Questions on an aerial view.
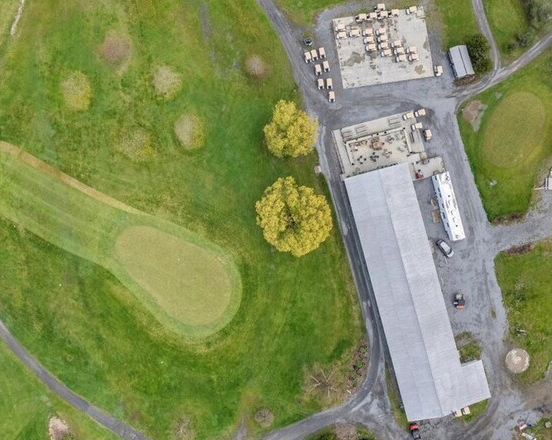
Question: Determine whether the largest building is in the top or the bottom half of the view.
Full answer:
Seen from above, the largest building lies in the bottom half of the view.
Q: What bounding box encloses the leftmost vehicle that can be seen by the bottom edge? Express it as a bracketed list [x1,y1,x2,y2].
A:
[409,423,421,440]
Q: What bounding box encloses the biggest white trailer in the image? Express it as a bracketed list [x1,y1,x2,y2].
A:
[433,170,464,240]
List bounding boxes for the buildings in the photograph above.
[447,45,474,79]
[343,162,491,421]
